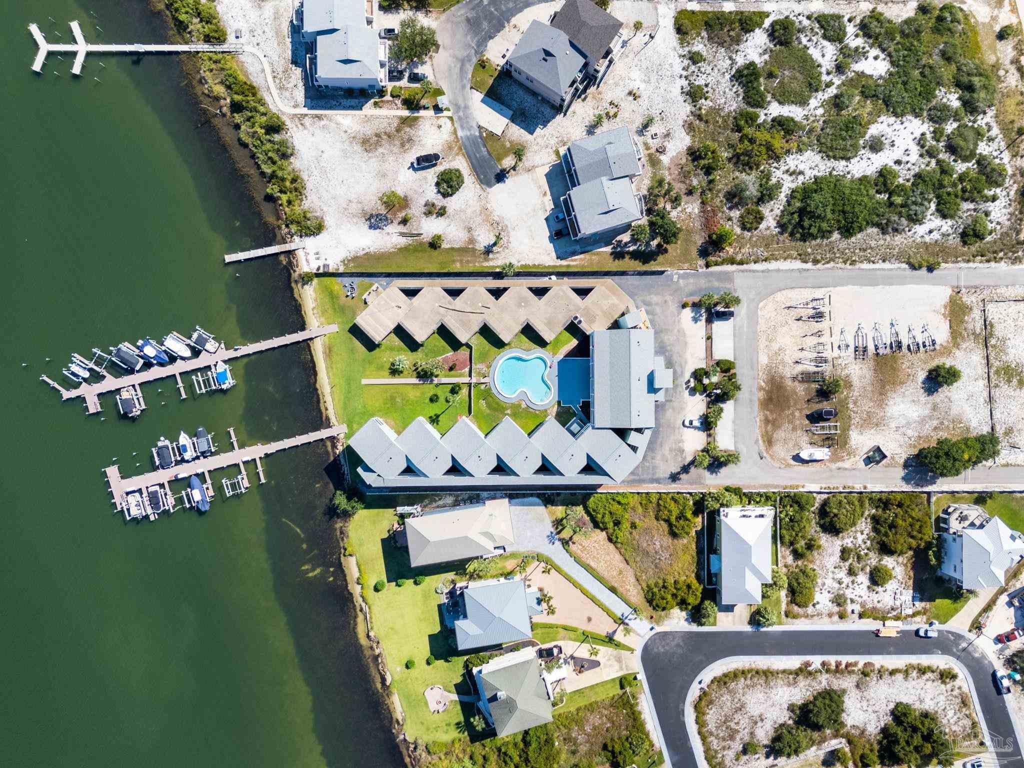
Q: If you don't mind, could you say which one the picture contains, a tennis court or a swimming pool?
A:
swimming pool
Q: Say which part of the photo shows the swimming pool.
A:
center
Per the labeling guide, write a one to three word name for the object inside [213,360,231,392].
boat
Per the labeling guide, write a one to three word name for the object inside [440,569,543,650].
house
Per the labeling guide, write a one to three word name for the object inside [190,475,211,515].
boat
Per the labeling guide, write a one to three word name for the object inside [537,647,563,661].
vehicle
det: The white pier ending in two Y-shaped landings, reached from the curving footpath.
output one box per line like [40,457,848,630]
[26,19,244,77]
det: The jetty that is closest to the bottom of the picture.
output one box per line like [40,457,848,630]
[100,425,347,520]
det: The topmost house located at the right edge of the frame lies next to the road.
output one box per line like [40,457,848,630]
[931,500,1024,589]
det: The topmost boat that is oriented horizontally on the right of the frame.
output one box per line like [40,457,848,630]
[807,408,843,420]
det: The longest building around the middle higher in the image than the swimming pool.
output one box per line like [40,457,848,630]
[354,278,636,344]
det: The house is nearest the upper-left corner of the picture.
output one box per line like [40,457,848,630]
[288,0,391,91]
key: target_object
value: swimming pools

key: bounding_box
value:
[491,349,558,409]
